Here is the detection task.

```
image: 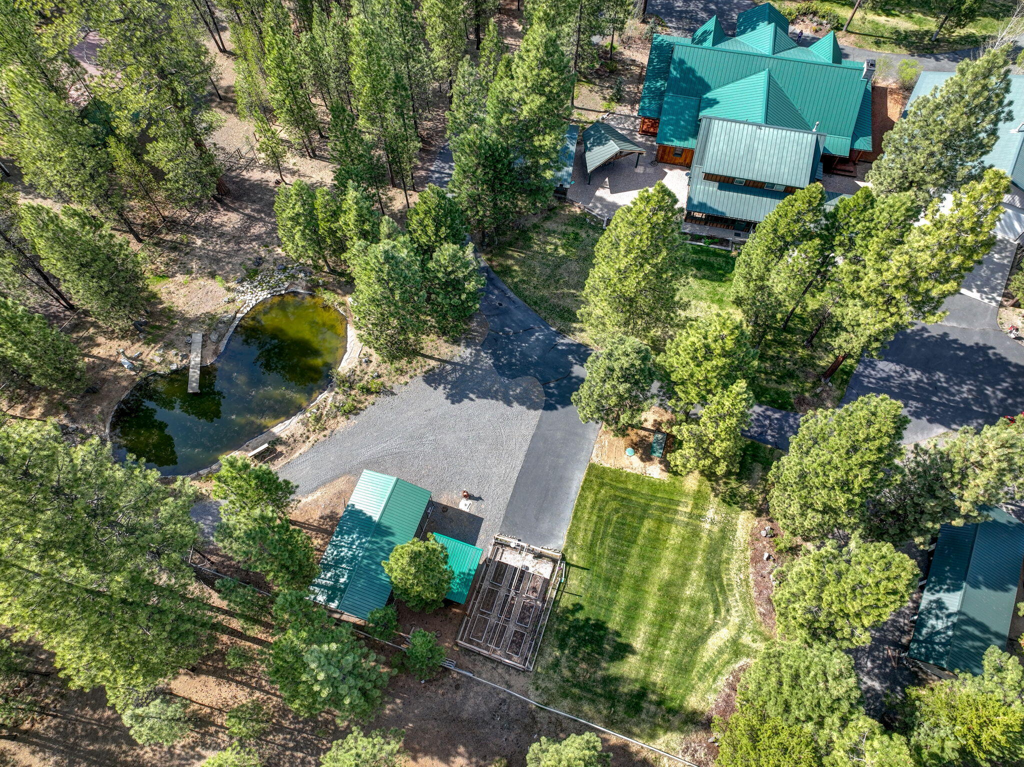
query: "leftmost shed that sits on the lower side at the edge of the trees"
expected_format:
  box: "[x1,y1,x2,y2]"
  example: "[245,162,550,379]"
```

[305,470,434,621]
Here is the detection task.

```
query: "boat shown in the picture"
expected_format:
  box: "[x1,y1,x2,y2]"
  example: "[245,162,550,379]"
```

[120,357,137,371]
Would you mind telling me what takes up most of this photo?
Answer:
trees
